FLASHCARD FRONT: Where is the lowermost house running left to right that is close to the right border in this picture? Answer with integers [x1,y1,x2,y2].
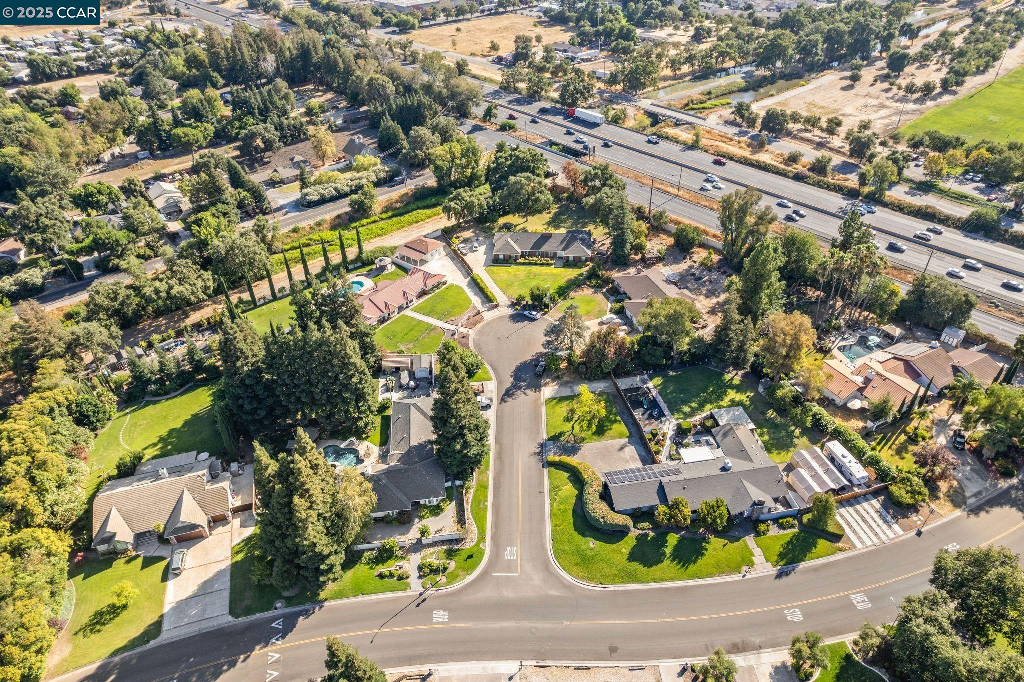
[822,339,998,431]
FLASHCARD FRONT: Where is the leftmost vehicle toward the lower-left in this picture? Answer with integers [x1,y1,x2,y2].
[168,544,187,573]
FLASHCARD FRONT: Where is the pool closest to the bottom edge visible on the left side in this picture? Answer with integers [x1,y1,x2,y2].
[322,446,362,472]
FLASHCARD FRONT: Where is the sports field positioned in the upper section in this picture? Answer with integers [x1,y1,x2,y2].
[900,52,1024,153]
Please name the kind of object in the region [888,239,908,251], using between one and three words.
vehicle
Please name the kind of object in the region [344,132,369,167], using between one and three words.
house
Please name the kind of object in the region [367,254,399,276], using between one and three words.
gazebo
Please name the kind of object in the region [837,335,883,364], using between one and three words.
swimming pool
